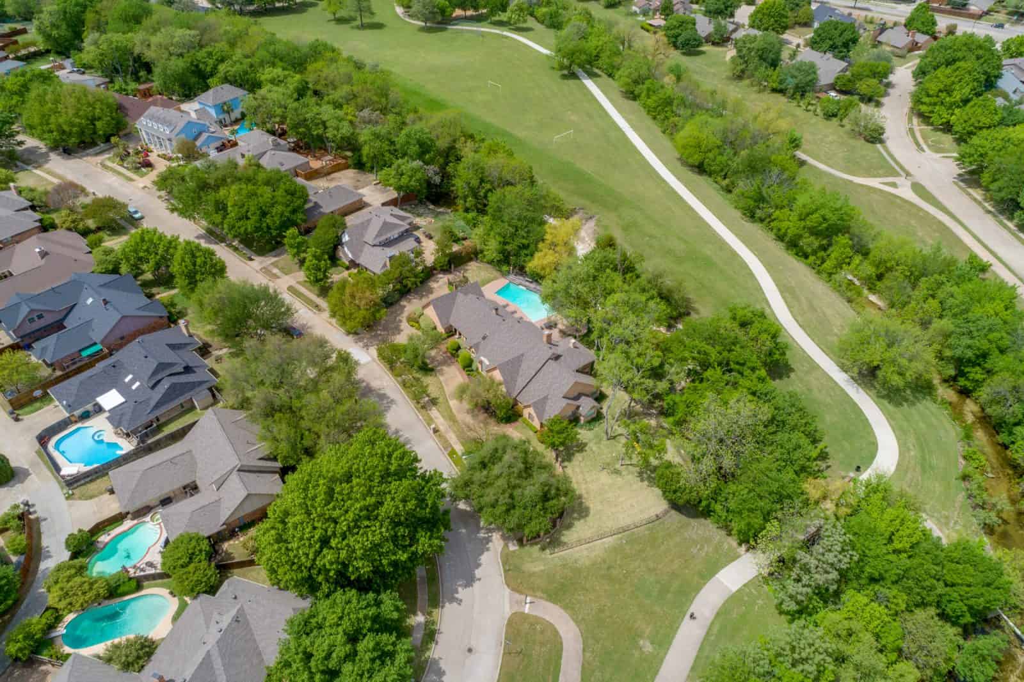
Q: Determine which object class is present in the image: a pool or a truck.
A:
pool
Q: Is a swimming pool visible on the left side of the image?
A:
Yes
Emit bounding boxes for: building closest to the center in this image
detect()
[430,281,600,430]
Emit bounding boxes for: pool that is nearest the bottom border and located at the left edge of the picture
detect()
[42,591,173,652]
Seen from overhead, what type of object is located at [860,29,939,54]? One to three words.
house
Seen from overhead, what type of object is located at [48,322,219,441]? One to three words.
house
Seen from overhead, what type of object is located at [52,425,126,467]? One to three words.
swimming pool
